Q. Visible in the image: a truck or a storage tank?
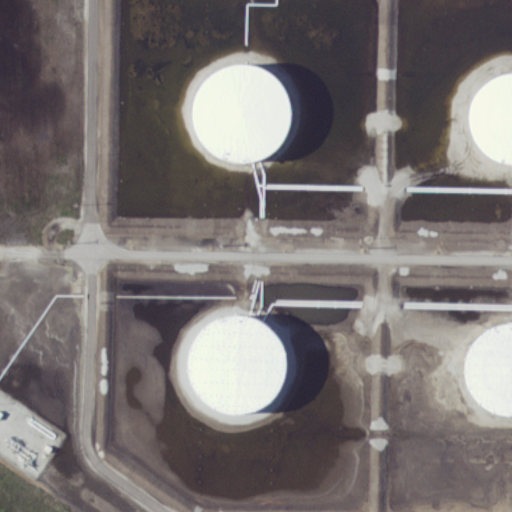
storage tank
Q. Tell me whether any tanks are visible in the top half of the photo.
Yes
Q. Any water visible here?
Yes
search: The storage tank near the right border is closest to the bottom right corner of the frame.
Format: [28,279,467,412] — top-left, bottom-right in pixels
[462,321,512,420]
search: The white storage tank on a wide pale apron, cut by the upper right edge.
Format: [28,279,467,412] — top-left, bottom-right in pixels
[467,73,512,168]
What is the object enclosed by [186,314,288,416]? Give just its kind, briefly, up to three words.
storage tank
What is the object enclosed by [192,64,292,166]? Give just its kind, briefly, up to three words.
storage tank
